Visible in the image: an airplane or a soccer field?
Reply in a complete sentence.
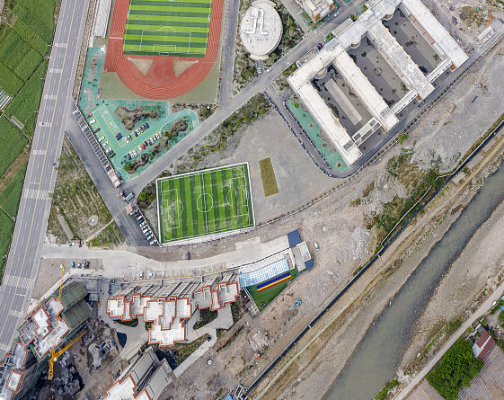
The image shows a soccer field.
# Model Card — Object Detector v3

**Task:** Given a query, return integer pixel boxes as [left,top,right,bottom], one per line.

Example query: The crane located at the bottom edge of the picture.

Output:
[47,263,86,380]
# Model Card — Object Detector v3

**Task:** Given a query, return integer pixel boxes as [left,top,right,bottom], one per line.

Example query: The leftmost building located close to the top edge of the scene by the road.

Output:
[240,0,285,61]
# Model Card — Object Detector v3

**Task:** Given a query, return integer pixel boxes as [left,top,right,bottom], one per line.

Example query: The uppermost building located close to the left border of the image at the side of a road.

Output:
[20,283,93,359]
